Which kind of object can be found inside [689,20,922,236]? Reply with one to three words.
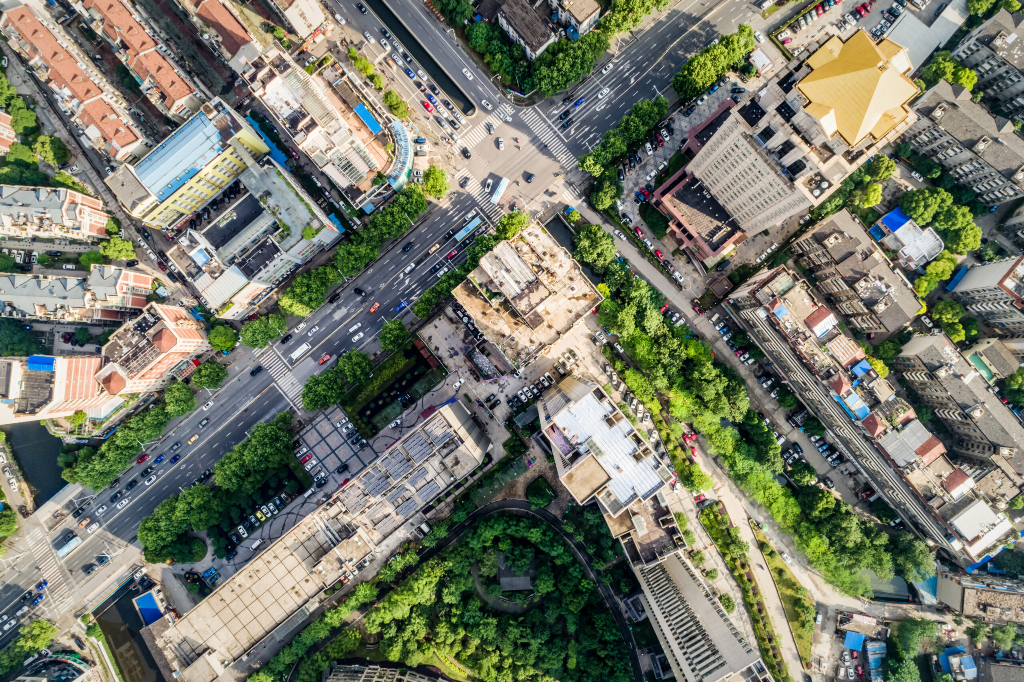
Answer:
building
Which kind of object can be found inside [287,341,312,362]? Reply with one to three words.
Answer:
bus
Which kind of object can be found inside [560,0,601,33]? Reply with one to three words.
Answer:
house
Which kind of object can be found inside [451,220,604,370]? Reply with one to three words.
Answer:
building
